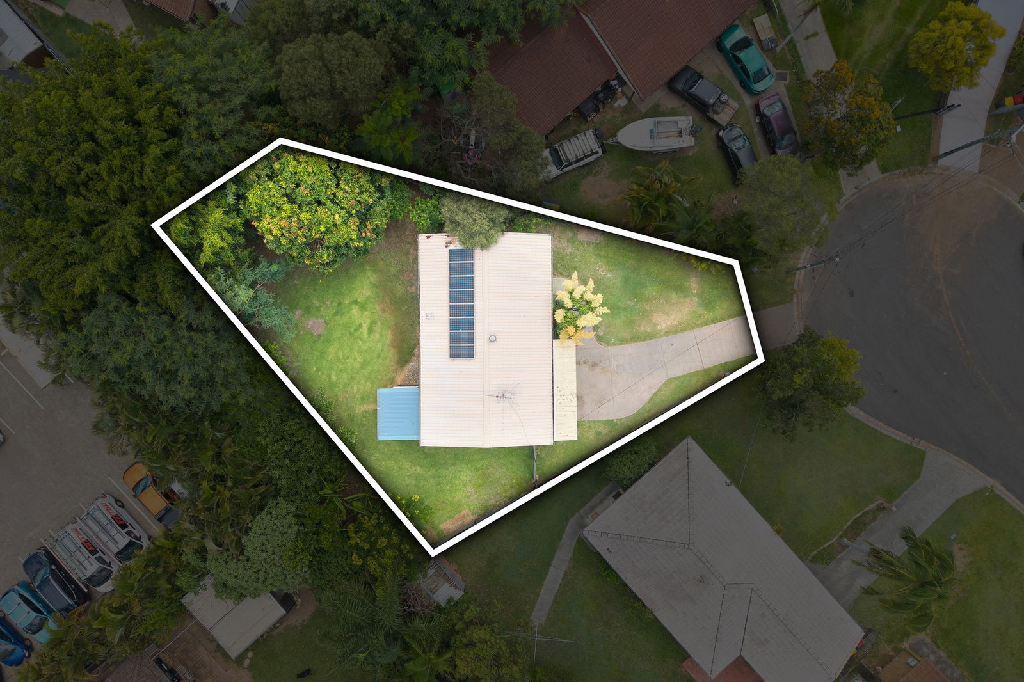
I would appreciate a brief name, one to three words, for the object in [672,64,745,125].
truck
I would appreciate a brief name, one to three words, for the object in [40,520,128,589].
van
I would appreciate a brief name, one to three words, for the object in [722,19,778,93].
car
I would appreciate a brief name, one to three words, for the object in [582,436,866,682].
house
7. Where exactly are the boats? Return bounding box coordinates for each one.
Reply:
[617,111,711,146]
